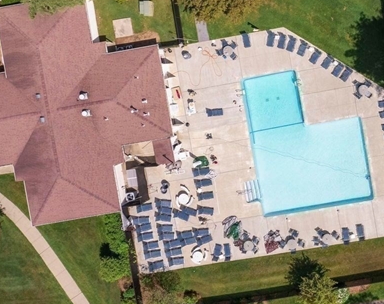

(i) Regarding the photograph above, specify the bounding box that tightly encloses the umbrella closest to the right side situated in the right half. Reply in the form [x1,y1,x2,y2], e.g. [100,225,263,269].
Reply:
[265,235,278,254]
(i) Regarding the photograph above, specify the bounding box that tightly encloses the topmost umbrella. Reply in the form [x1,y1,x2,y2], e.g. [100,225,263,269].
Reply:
[193,157,209,169]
